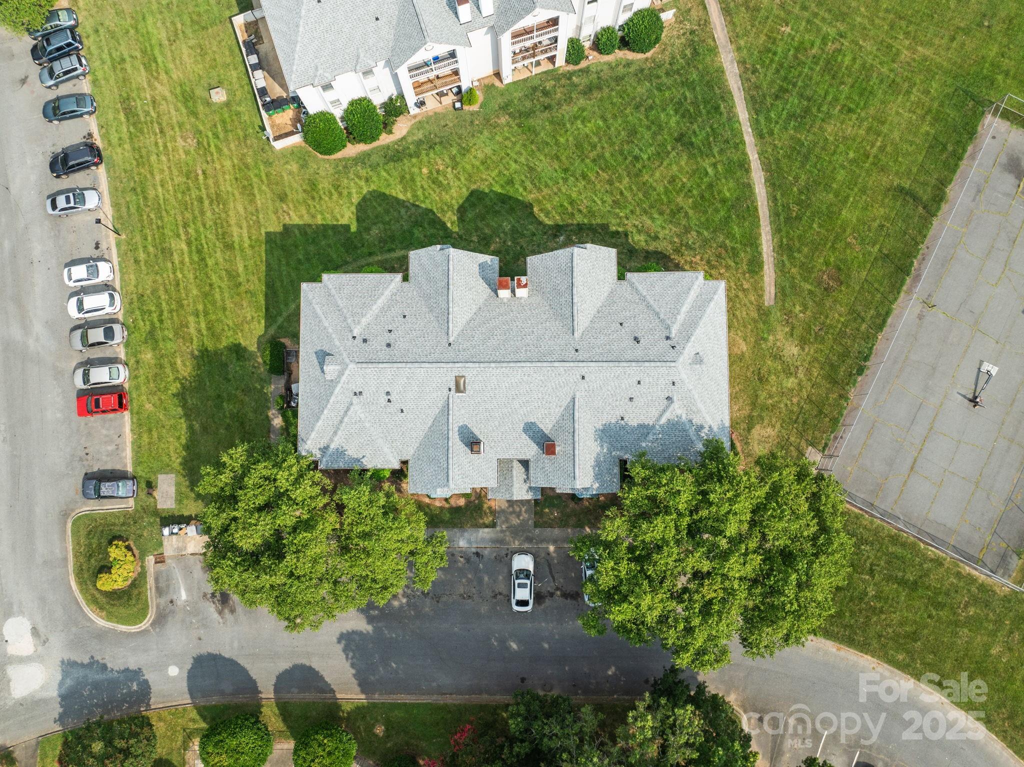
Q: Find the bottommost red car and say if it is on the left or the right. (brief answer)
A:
left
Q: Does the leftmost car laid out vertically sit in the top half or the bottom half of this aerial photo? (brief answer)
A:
bottom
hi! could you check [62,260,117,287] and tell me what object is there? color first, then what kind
white car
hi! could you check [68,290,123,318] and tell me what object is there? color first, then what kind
white car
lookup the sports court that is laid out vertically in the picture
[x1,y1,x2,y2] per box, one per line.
[821,114,1024,579]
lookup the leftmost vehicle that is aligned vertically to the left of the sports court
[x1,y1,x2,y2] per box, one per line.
[509,552,536,613]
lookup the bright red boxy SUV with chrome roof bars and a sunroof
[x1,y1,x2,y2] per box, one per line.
[76,392,131,417]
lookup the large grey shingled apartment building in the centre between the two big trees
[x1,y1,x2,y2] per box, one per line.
[297,246,732,501]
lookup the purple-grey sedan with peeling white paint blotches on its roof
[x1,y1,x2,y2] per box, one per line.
[83,476,140,502]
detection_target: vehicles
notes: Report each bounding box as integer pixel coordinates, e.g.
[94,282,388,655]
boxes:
[50,145,105,177]
[62,260,117,287]
[76,392,131,417]
[83,476,140,502]
[71,325,130,352]
[509,552,536,613]
[46,189,104,218]
[44,95,98,124]
[76,364,132,389]
[39,55,92,90]
[68,290,123,318]
[29,9,84,41]
[31,29,85,64]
